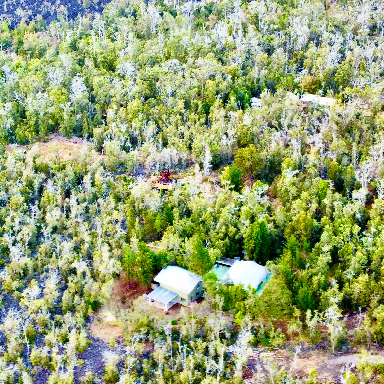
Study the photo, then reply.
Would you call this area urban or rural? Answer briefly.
rural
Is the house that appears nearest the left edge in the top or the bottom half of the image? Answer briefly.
bottom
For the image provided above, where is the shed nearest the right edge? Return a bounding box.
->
[300,95,343,114]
